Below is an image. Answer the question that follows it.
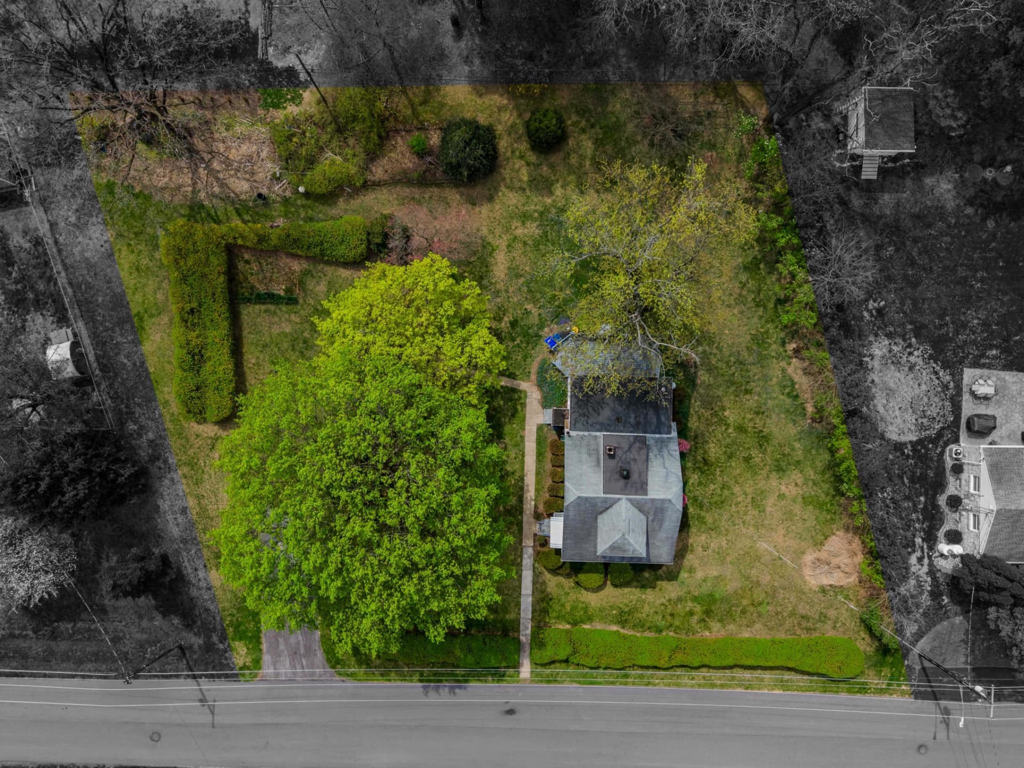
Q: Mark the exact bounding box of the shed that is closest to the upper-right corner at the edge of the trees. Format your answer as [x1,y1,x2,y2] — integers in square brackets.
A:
[851,87,917,158]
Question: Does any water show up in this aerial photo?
No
